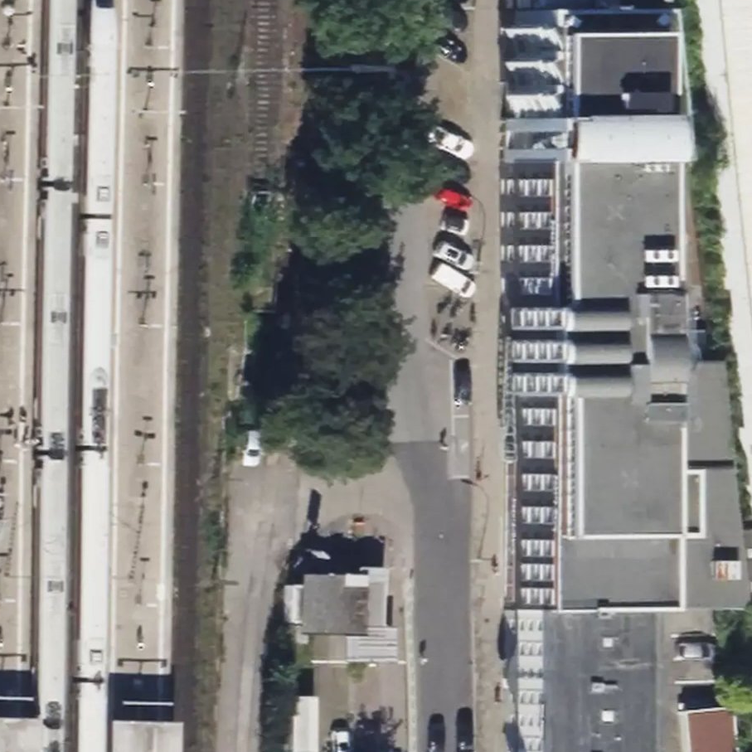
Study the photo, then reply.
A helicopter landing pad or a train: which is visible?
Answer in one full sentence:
There is a train in the scene.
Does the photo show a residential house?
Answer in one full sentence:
Yes, you can see a residential house in this photo.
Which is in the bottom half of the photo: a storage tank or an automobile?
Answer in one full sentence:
Visible in the bottom half of the photo is an automobile.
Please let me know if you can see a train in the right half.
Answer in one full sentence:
No, there is no train in the right half.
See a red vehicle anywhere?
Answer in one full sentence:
Yes, this view includes a red vehicle.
